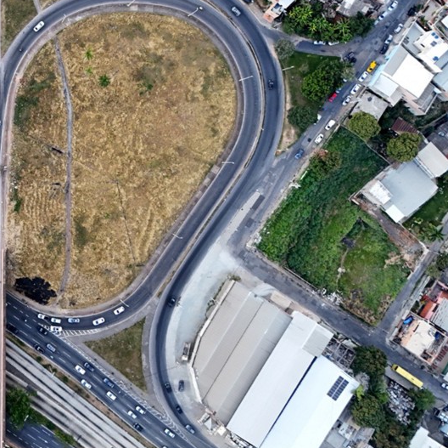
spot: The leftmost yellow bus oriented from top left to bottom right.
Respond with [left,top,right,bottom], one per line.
[392,363,429,391]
